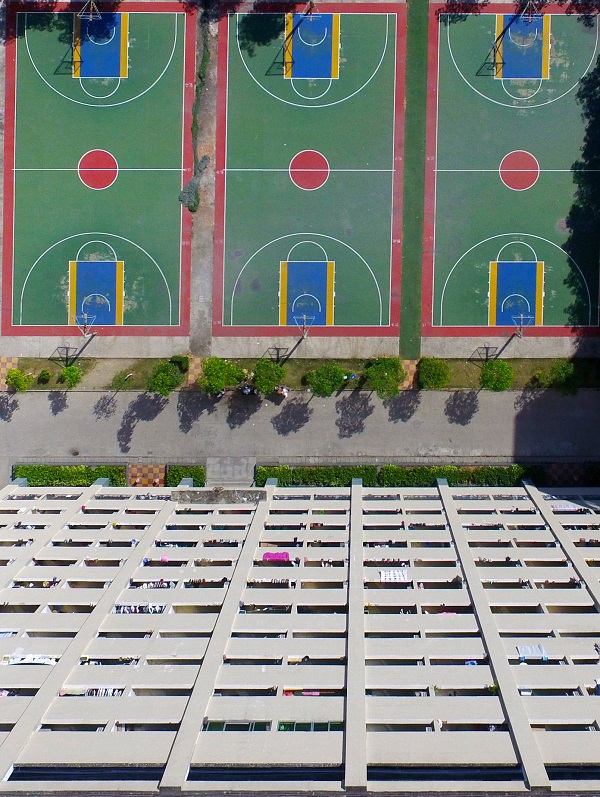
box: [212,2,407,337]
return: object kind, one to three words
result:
basketball court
